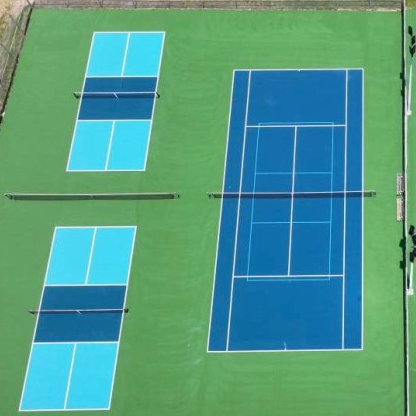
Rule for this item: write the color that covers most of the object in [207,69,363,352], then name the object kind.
blue tennis court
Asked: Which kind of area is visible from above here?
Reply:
sports ground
